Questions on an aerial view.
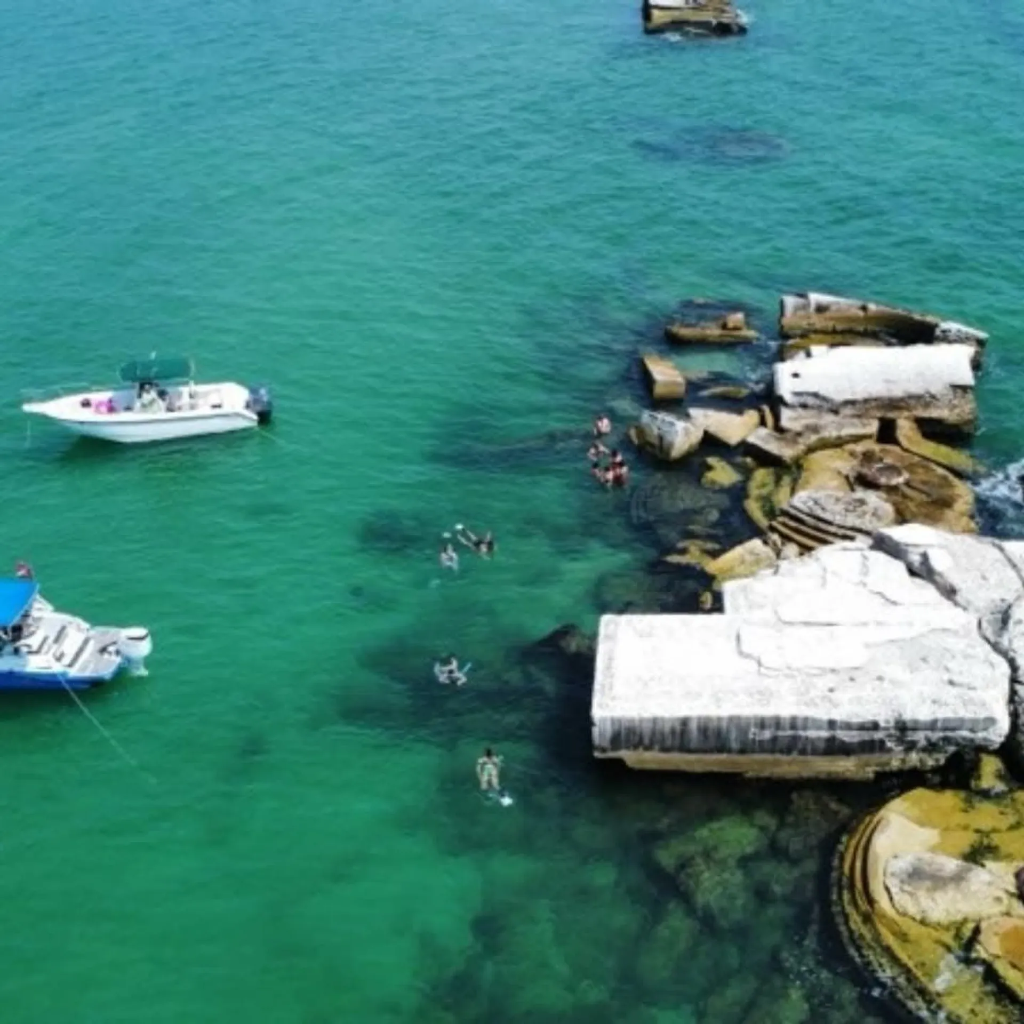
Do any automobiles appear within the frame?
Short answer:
No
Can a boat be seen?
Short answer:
Yes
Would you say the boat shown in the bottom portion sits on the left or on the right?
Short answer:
left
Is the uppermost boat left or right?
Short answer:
left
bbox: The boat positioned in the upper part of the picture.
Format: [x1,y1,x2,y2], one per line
[20,348,284,445]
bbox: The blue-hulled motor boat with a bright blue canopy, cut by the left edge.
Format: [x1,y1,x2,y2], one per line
[0,580,165,695]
